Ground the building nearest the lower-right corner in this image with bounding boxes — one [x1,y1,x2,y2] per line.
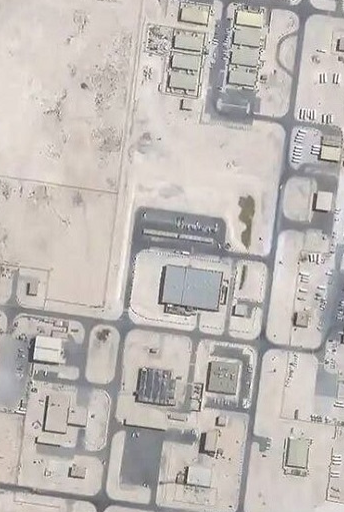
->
[285,437,310,469]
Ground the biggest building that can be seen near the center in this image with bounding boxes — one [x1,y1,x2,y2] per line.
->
[162,265,224,311]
